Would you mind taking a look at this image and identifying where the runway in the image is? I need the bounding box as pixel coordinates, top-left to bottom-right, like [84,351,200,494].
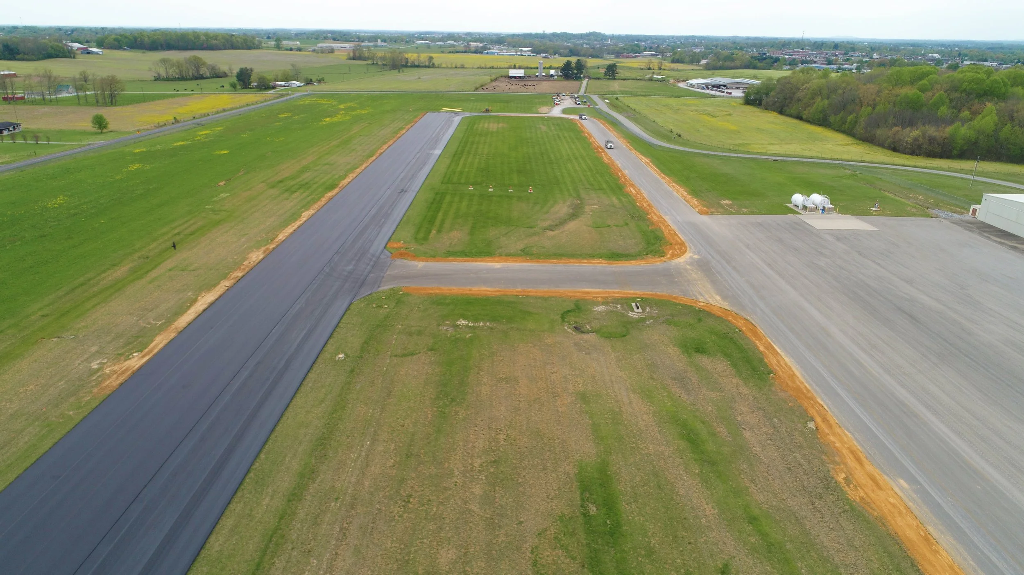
[0,113,467,575]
